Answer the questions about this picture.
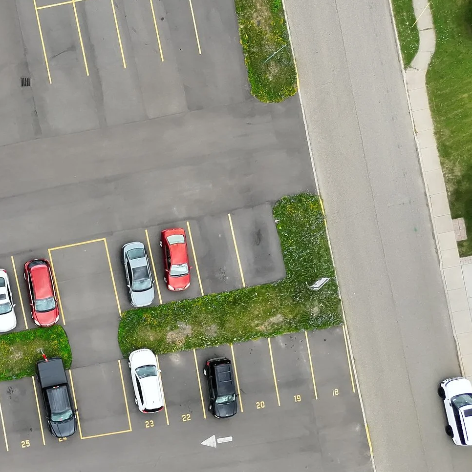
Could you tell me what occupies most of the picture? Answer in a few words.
paved ground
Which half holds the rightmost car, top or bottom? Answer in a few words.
bottom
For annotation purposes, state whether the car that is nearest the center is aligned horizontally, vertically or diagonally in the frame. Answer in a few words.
vertically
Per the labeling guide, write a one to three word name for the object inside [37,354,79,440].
truck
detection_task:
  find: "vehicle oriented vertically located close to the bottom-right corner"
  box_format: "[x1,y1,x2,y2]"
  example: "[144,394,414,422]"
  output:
[440,375,472,448]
